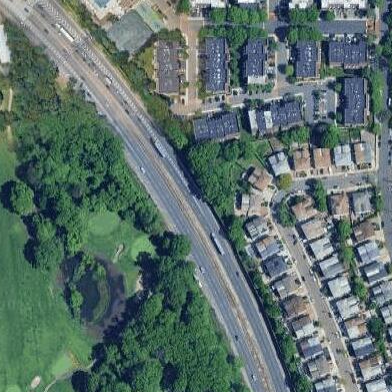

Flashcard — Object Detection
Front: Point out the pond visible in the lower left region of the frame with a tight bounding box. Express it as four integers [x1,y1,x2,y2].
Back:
[65,255,123,329]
